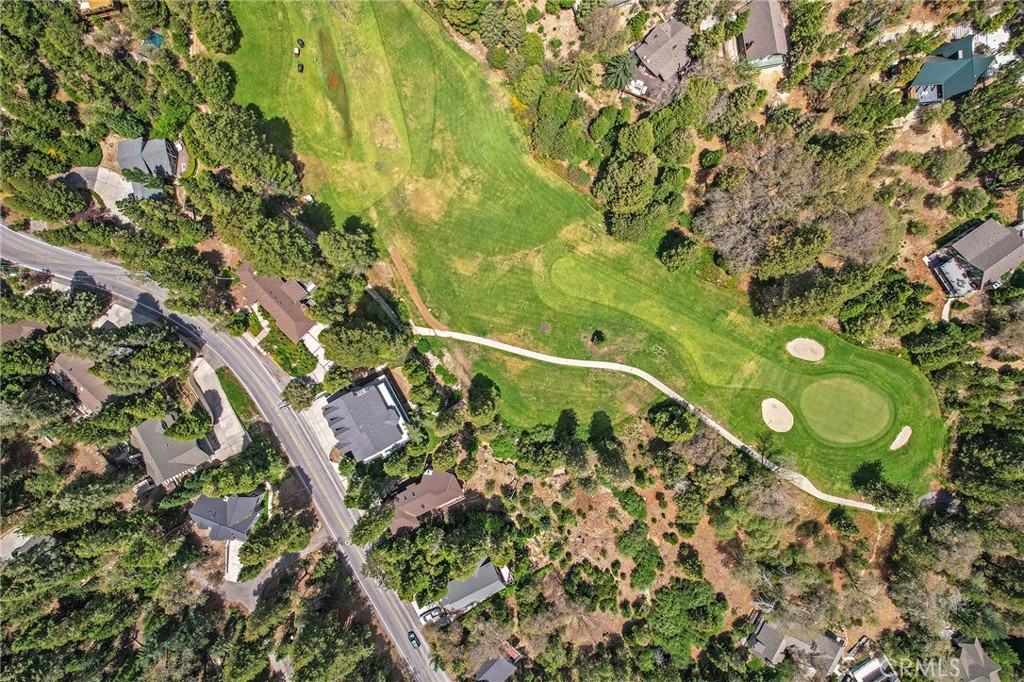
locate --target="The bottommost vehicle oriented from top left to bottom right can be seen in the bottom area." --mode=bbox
[407,630,420,647]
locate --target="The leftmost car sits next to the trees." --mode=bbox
[10,544,24,562]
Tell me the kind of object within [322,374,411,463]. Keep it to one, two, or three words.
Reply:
house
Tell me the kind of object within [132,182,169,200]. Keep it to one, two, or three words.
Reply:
building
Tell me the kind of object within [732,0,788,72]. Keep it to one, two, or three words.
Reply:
house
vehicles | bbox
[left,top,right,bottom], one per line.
[407,630,420,647]
[10,544,24,562]
[294,47,301,58]
[422,608,440,621]
[298,64,305,74]
[297,39,306,50]
[305,195,314,203]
